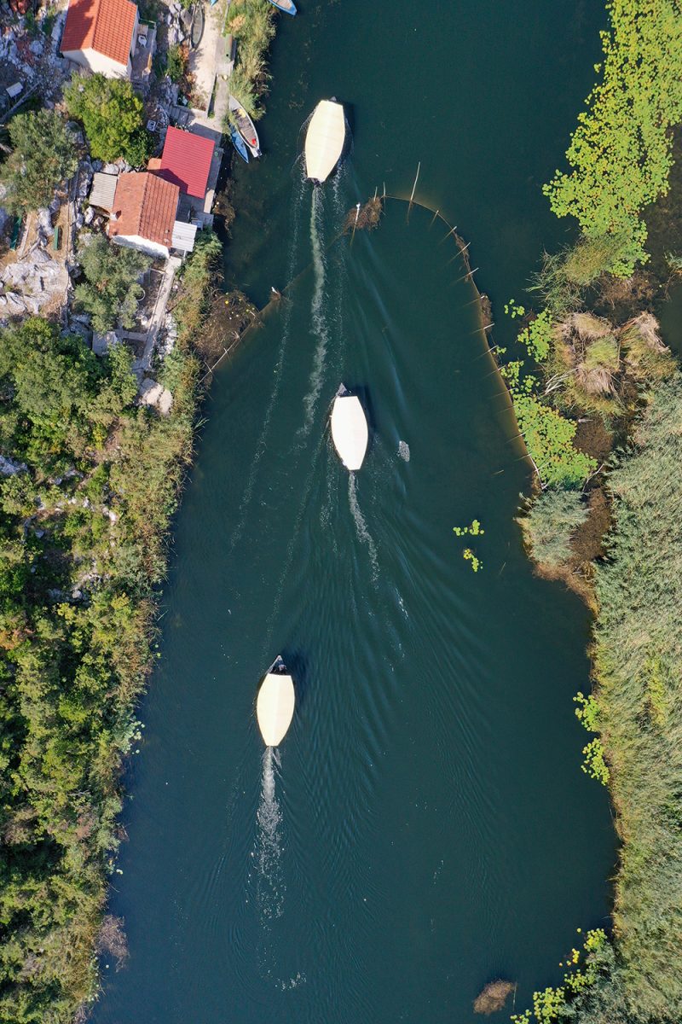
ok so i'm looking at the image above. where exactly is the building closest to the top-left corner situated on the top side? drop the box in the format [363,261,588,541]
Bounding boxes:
[60,0,143,81]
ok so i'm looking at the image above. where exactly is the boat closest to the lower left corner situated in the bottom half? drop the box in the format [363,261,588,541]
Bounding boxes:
[257,656,294,746]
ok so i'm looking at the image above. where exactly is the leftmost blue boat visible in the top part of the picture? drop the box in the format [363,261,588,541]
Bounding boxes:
[226,122,248,163]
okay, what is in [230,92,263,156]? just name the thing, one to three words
boat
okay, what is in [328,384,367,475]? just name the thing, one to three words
boat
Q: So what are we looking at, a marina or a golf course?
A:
marina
